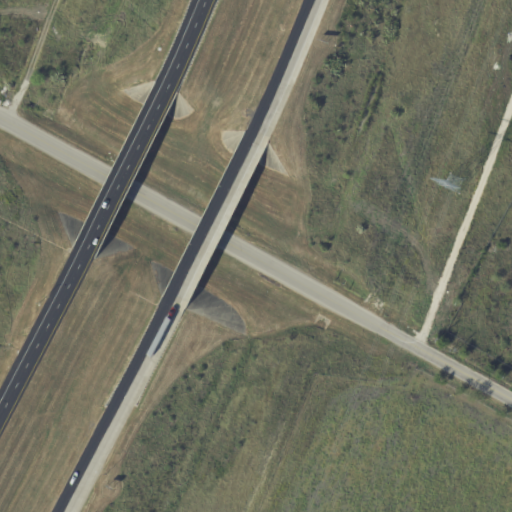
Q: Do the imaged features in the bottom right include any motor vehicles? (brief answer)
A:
No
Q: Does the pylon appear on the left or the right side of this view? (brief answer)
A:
right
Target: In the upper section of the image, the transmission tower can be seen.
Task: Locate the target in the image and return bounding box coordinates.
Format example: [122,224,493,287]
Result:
[432,172,466,194]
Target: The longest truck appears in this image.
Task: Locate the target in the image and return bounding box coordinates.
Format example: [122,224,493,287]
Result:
[148,305,178,354]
